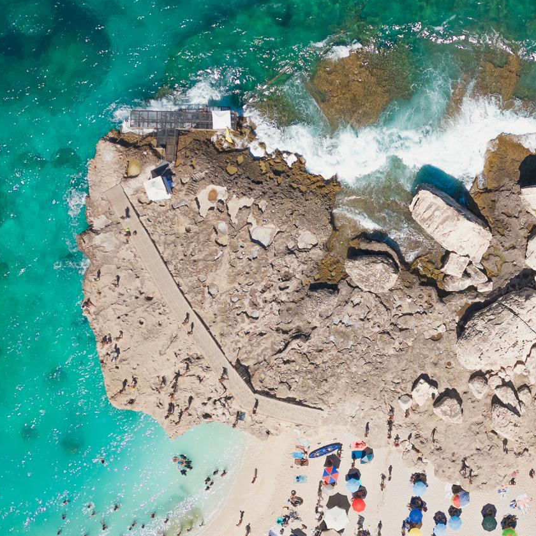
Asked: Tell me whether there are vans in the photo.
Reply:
No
